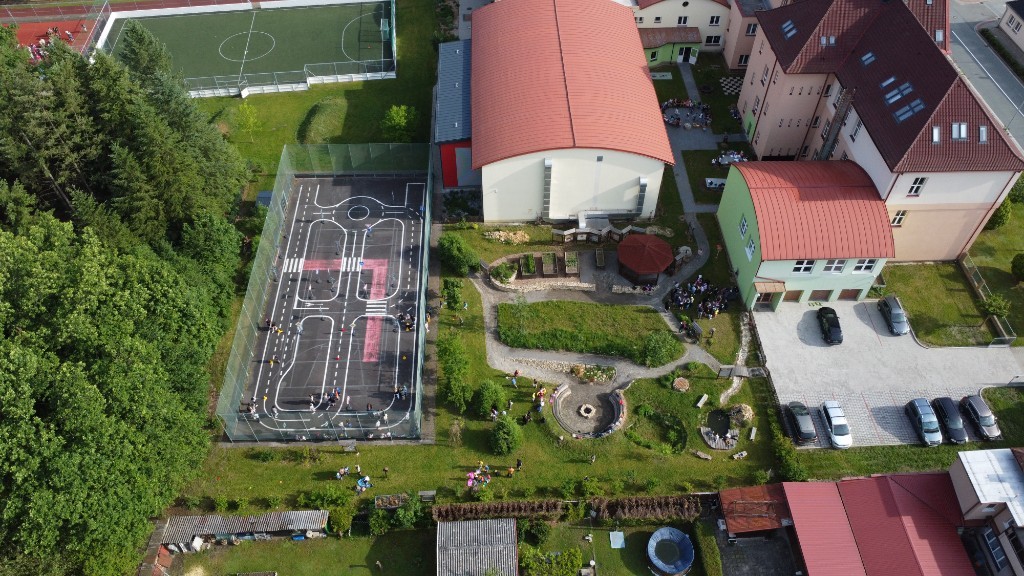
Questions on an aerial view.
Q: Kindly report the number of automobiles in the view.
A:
7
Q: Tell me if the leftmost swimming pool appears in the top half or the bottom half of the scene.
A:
bottom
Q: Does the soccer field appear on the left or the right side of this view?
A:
left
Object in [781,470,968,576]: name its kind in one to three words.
house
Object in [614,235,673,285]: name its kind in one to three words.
gazebo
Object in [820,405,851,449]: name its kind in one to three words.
car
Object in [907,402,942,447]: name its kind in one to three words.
car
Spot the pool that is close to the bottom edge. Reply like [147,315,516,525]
[648,529,694,576]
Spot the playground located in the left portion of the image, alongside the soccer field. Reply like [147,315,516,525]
[233,174,430,441]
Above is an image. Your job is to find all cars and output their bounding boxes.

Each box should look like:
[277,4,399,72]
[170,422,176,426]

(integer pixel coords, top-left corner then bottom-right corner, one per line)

[965,400,1000,442]
[788,406,818,447]
[820,405,851,449]
[907,402,942,447]
[817,311,847,346]
[882,301,911,336]
[934,401,970,446]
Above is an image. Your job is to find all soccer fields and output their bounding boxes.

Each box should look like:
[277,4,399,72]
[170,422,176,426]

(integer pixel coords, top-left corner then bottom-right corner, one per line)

[83,0,397,97]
